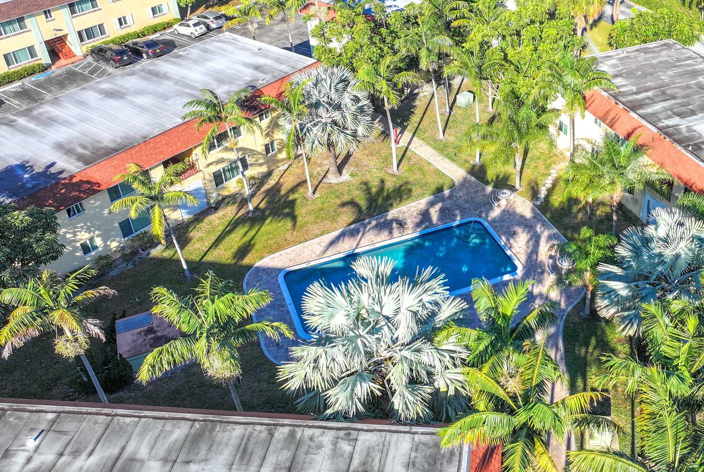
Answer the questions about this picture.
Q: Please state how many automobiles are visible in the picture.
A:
four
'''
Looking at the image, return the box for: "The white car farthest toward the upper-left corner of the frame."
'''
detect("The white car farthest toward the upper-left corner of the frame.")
[173,19,208,40]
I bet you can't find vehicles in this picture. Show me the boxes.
[173,19,208,40]
[92,45,138,72]
[121,39,165,62]
[195,11,234,33]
